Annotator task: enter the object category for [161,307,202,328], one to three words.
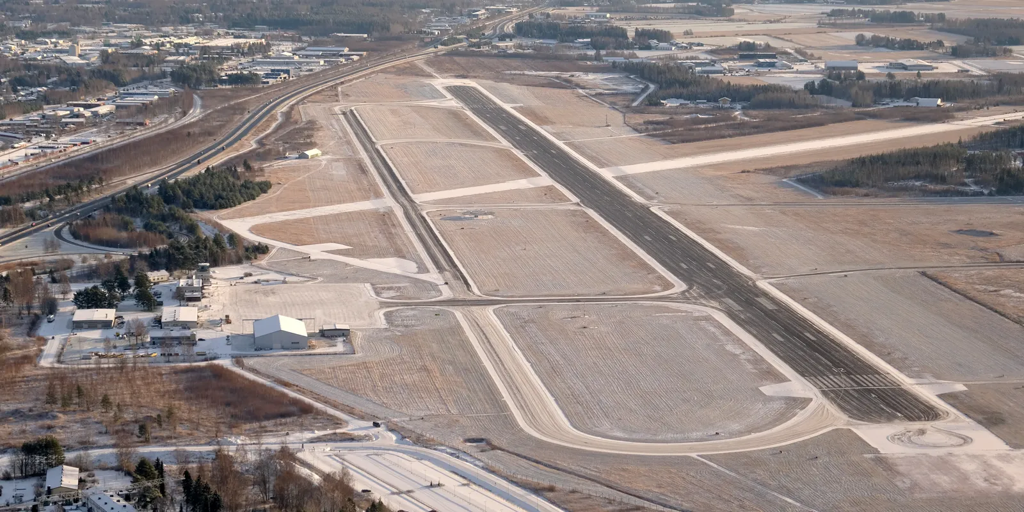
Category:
building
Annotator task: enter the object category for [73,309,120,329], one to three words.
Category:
building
